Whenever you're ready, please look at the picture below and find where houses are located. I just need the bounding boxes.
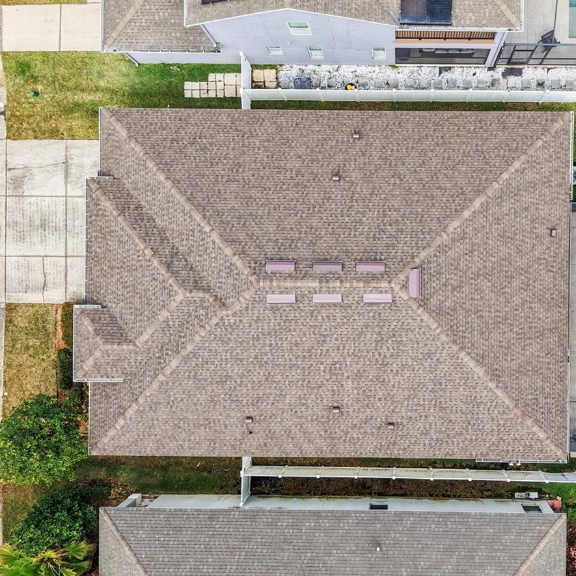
[71,106,575,464]
[98,489,568,576]
[100,0,526,73]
